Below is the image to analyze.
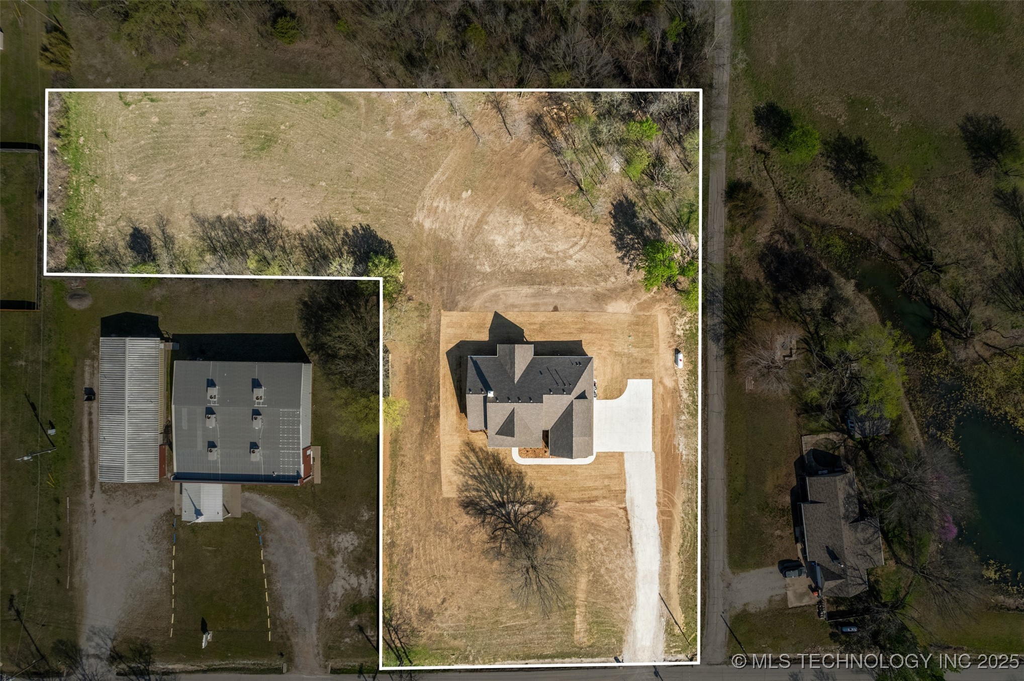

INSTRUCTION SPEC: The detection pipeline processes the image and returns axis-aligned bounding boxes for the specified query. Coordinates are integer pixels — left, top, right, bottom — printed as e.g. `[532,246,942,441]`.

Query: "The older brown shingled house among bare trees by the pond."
[802,471,884,597]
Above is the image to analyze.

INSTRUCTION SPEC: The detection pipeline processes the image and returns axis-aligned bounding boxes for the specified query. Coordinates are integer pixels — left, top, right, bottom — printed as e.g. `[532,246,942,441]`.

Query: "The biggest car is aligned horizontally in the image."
[781,567,805,579]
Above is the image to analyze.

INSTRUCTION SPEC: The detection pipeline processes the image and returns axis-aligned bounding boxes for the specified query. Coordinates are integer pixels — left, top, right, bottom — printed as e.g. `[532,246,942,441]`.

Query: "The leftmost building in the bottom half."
[99,337,165,483]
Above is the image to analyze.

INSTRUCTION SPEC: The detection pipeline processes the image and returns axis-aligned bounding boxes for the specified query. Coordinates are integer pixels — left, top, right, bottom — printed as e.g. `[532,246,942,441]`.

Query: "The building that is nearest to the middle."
[466,344,594,459]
